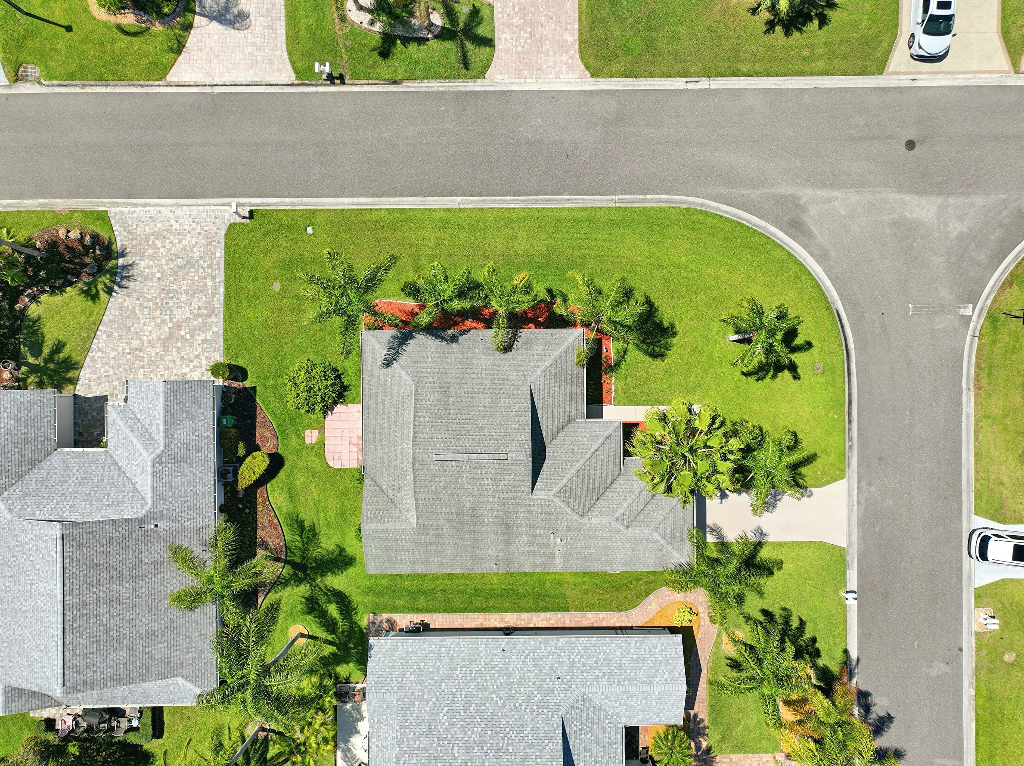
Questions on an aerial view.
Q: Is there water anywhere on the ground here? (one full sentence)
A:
No, there's no water in this view.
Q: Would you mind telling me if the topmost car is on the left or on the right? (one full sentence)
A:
The topmost car sits on the right side.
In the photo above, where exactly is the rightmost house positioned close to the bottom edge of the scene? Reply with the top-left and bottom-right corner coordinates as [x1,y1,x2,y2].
[365,631,686,766]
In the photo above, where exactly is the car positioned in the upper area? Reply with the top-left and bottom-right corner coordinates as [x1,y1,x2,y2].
[915,0,963,62]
